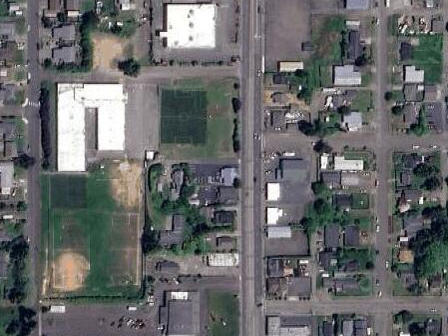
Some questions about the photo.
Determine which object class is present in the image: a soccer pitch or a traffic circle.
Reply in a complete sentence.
There is a soccer pitch in the scene.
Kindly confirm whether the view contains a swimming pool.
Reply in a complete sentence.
No, I can't see a single swimming pool in this photo.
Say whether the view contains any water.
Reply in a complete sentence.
No, the scene doesn't show any water.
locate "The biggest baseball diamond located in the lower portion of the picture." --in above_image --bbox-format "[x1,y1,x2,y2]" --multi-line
[49,160,142,297]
